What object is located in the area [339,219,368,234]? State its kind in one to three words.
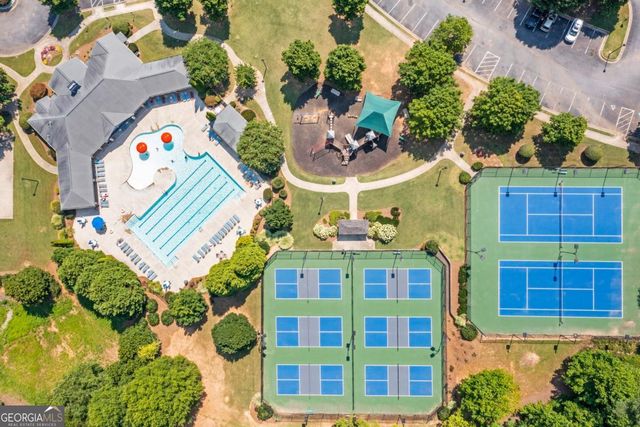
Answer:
building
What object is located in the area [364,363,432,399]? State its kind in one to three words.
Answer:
sports court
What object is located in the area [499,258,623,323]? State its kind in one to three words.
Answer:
tennis court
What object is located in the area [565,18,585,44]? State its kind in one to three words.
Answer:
car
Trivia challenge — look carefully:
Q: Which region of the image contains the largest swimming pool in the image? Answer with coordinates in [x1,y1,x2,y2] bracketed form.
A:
[124,123,246,268]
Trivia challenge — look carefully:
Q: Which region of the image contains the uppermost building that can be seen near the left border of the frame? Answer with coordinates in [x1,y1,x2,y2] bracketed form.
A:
[28,32,197,210]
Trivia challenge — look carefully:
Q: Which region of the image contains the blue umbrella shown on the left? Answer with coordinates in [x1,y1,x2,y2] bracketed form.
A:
[92,216,107,230]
